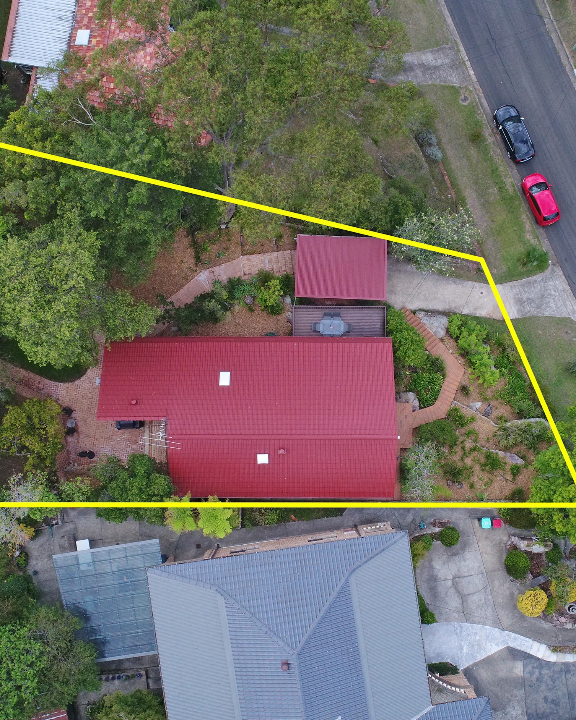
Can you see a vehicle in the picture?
Yes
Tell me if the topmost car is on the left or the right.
right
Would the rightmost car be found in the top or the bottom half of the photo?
top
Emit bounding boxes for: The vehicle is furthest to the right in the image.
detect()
[522,172,560,229]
